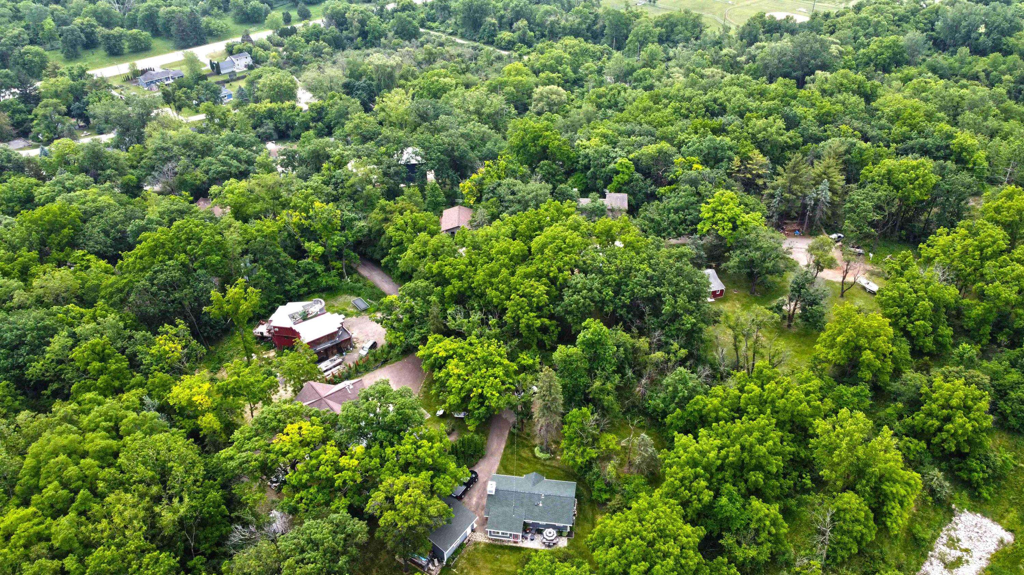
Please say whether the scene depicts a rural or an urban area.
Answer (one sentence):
From above, the setting appears rural.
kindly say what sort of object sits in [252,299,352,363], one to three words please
house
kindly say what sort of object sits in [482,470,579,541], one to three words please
building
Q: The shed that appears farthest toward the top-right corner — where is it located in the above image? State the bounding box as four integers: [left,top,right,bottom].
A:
[700,273,726,298]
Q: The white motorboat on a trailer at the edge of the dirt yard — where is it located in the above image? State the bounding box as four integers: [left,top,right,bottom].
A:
[857,274,877,291]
